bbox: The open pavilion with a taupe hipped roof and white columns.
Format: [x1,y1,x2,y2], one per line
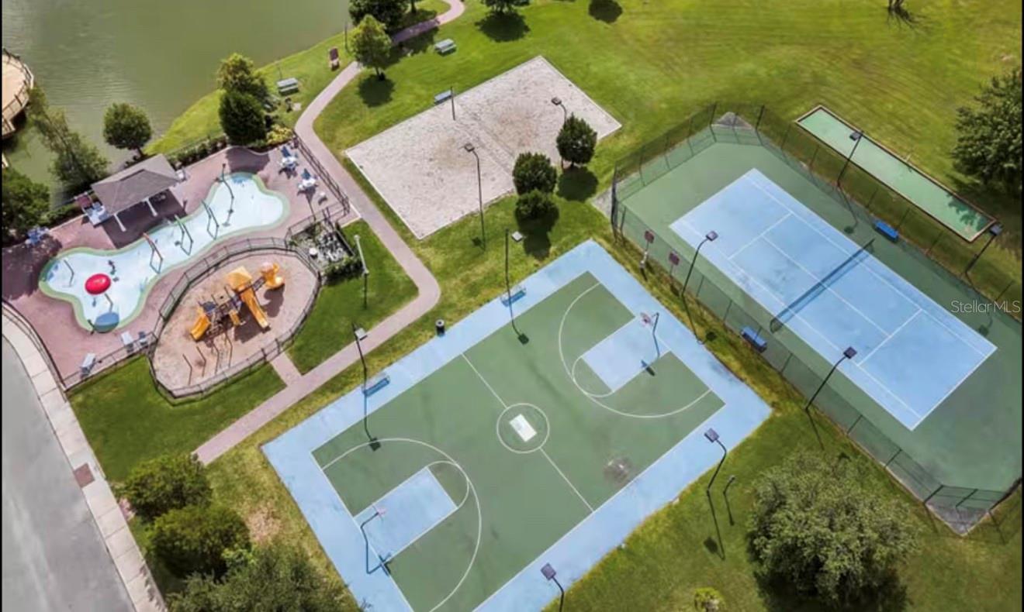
[90,154,183,230]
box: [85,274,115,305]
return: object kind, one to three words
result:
fountain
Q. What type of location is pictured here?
sports ground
